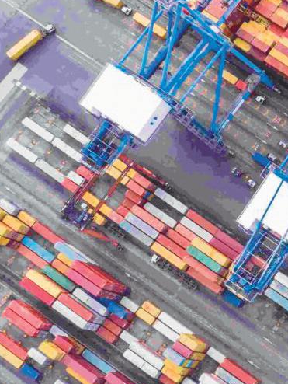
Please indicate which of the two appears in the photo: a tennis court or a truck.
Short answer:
truck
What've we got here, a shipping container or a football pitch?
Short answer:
shipping container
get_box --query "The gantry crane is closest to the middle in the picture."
[54,147,167,242]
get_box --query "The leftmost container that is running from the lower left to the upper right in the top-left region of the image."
[11,30,46,65]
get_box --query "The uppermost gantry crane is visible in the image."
[58,0,281,190]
